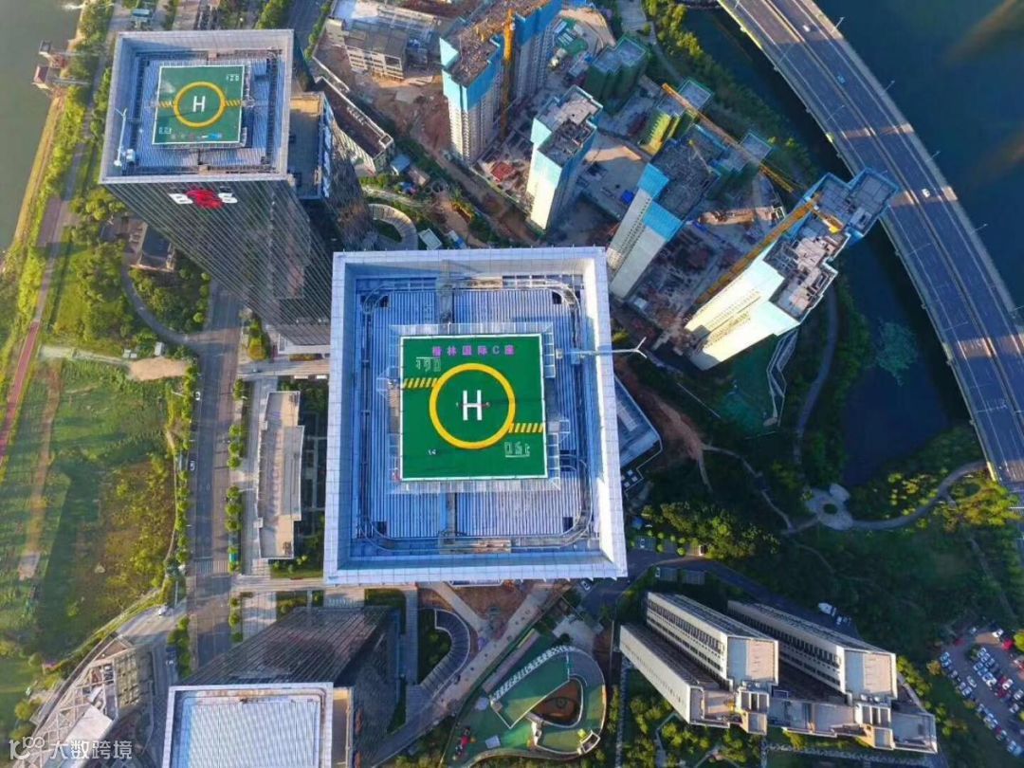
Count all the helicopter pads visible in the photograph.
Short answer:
2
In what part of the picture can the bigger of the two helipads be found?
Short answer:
center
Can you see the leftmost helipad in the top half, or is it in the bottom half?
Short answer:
top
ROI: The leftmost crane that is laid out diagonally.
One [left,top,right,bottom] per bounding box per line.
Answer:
[663,85,756,169]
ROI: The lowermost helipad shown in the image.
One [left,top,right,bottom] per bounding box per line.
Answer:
[377,320,569,494]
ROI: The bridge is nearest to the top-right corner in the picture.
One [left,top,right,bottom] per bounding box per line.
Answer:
[715,0,1024,565]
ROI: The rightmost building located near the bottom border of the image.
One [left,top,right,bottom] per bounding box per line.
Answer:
[623,593,940,754]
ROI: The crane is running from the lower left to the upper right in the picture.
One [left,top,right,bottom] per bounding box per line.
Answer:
[694,177,851,304]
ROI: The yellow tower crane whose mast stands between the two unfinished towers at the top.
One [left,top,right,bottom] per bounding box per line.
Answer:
[472,4,520,136]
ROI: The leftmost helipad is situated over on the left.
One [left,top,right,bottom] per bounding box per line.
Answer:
[145,58,249,149]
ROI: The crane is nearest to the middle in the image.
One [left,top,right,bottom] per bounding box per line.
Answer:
[561,338,646,367]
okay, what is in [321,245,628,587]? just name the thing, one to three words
building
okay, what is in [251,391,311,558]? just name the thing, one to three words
building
